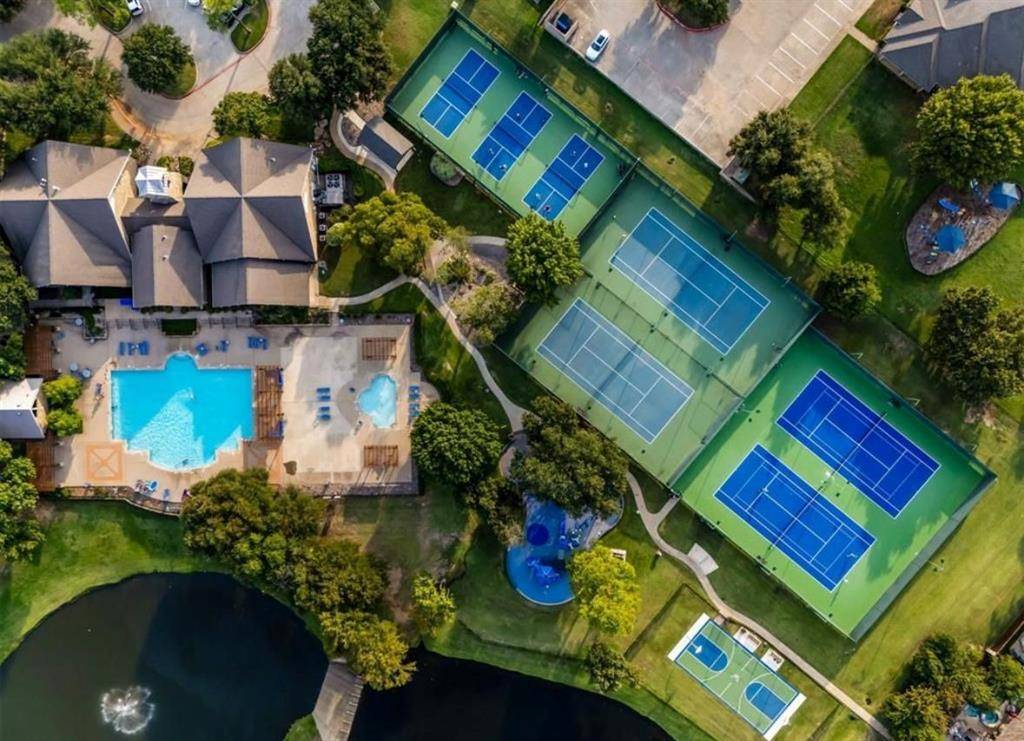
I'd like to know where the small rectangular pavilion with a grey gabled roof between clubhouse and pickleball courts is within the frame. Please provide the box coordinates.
[360,117,416,173]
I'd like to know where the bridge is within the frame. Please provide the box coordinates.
[307,655,364,741]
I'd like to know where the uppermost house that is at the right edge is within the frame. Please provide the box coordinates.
[880,0,1024,96]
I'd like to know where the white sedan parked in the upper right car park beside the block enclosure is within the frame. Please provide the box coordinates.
[588,26,611,60]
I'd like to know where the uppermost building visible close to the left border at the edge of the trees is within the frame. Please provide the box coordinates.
[0,136,320,308]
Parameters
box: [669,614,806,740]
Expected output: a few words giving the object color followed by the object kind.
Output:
green basketball court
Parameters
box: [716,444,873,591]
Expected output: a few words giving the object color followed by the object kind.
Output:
blue tennis court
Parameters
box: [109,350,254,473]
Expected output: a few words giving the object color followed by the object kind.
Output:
blue swimming pool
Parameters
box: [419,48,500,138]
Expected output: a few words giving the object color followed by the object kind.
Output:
blue sports court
